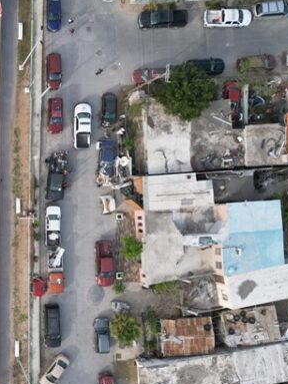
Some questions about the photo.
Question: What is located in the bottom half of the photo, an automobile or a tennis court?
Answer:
automobile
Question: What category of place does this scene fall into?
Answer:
residential area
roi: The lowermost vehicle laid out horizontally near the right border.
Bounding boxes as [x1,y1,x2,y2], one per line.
[234,53,275,74]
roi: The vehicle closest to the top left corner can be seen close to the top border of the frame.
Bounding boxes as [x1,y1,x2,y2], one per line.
[44,0,62,34]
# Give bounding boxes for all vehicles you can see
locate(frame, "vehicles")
[43,303,62,346]
[46,97,63,134]
[45,248,65,294]
[97,369,114,384]
[202,7,251,29]
[37,351,71,384]
[45,53,63,90]
[44,0,62,34]
[185,57,225,77]
[221,80,243,127]
[251,0,288,20]
[234,53,275,74]
[72,103,93,150]
[130,67,171,86]
[94,239,115,287]
[92,317,111,352]
[136,8,189,29]
[47,153,67,200]
[100,92,119,130]
[44,205,62,246]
